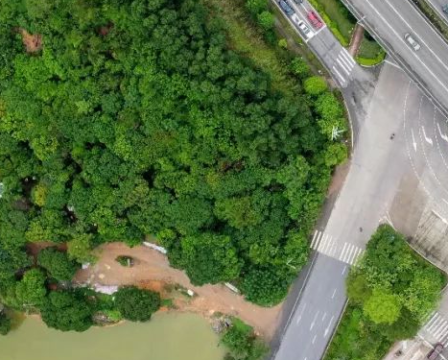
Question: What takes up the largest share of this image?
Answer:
trees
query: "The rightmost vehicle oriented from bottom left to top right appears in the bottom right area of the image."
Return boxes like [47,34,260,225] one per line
[427,342,444,360]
